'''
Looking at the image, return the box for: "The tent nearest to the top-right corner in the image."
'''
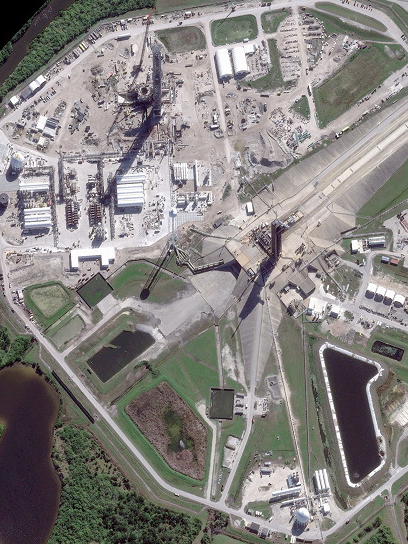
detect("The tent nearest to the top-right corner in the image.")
[232,49,250,78]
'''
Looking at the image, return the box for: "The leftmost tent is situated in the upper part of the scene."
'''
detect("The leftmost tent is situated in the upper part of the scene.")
[216,51,233,81]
